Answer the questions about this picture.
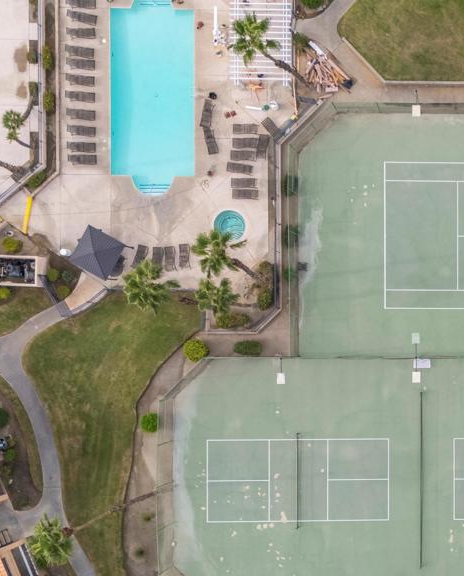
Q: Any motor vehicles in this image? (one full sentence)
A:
No, no motor vehicle is visible in the view.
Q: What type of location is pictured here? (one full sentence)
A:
It's a sports ground.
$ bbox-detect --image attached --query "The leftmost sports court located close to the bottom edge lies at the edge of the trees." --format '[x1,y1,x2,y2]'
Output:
[173,359,420,576]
